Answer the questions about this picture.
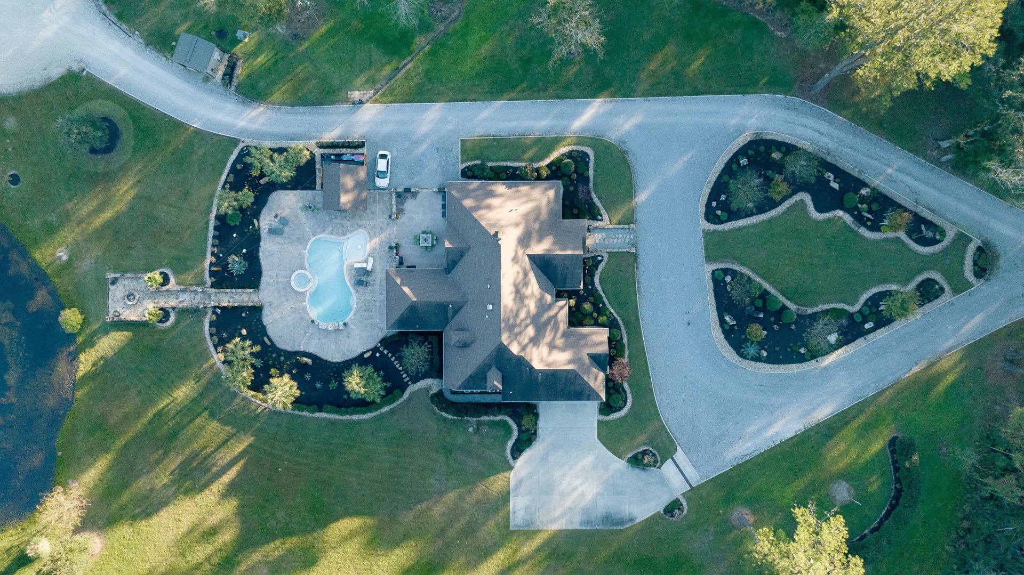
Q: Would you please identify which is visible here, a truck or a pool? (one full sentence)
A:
The one in the frame is a pool.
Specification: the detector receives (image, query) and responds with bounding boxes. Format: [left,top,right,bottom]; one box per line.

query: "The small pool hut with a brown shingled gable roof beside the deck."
[322,161,368,210]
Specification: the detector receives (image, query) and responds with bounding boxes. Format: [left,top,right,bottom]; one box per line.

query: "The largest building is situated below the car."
[385,180,611,402]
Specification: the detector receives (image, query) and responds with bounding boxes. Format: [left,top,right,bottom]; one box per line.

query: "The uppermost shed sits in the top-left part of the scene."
[174,34,233,82]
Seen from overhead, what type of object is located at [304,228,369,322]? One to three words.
swimming pool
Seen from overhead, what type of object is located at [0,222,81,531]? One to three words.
pond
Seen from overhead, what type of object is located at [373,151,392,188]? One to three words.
car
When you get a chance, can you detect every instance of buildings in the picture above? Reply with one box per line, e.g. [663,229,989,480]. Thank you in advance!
[322,161,368,210]
[174,34,233,82]
[385,180,611,402]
